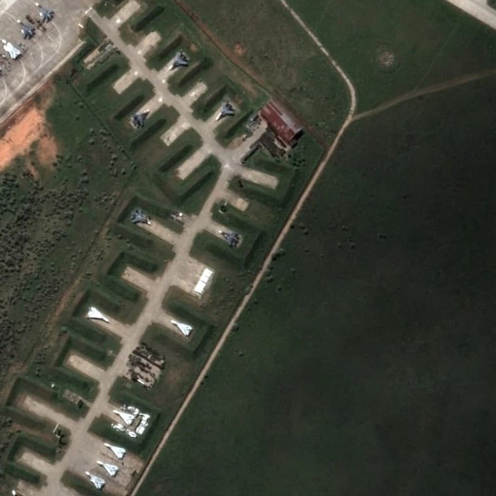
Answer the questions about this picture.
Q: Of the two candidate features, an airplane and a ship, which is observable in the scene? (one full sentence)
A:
I can see an airplane in this picture.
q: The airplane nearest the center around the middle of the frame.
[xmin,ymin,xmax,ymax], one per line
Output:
[219,231,241,246]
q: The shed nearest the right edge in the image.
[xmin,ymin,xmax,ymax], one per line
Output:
[259,99,306,146]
